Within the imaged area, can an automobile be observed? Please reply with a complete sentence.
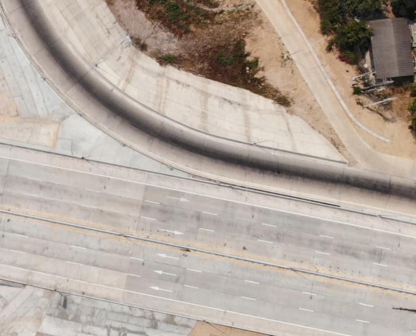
No, I find no automobile anywhere in the image.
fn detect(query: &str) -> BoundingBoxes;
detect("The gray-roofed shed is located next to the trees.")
[362,18,413,78]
